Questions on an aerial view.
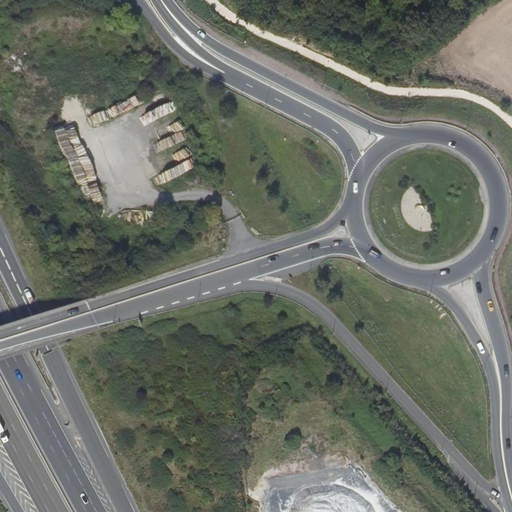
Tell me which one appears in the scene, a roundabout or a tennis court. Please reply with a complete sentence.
The one in the frame is a roundabout.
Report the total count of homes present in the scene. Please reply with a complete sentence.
Not a single home can be seen.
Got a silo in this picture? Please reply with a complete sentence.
No, there appears to be no silo in this shot.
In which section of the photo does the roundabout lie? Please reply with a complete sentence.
You can find the roundabout in the right area of the picture.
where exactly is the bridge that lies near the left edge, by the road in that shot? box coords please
[0,292,116,359]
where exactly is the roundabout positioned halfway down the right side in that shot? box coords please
[344,124,508,288]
